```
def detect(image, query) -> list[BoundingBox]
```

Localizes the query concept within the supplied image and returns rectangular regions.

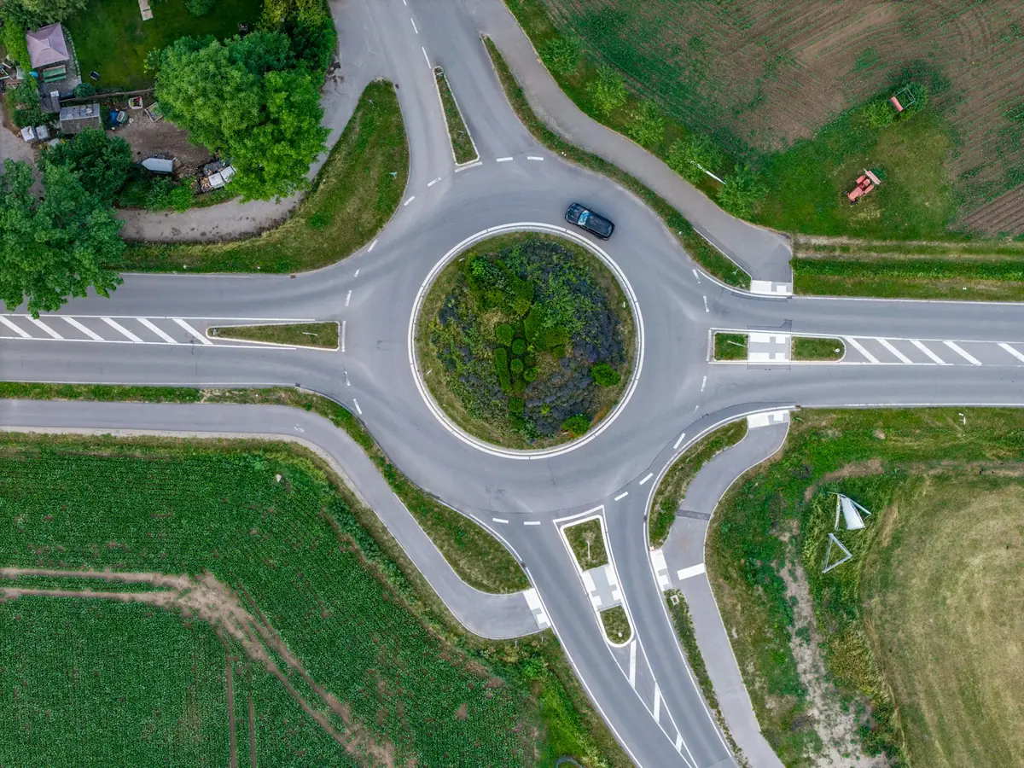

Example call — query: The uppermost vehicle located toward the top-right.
[841,170,878,209]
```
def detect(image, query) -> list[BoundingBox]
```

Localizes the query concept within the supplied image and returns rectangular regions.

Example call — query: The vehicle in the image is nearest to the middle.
[564,203,617,240]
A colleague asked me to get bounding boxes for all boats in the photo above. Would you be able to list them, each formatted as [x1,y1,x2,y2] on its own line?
[142,158,176,173]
